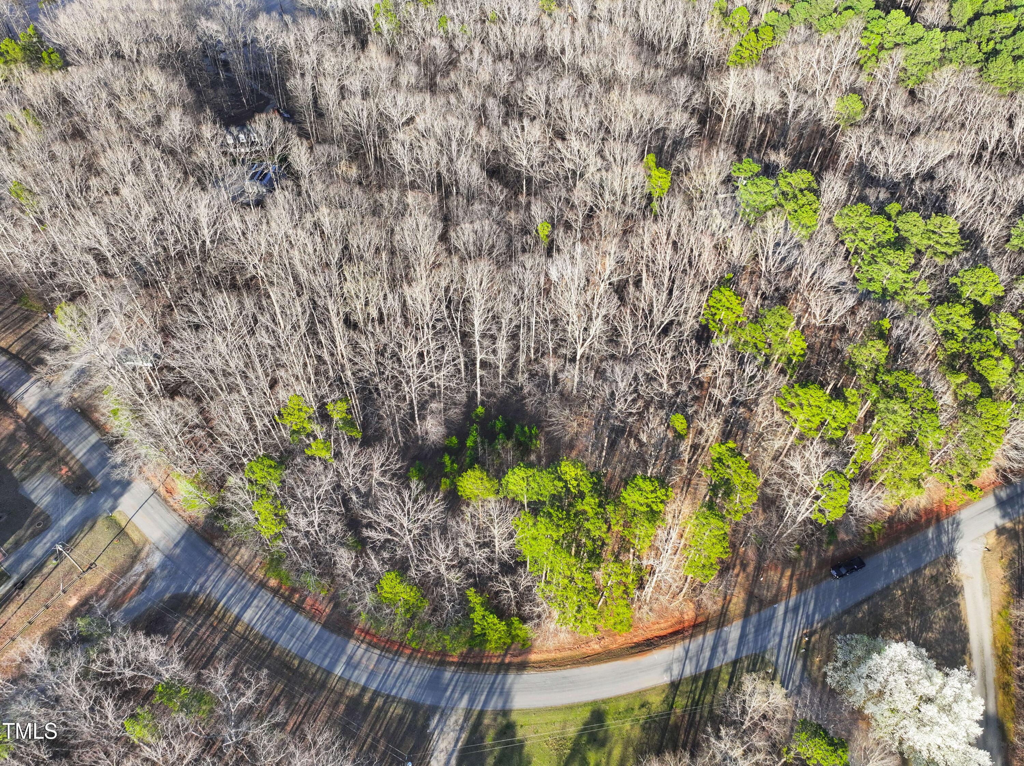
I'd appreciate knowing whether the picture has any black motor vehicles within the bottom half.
Yes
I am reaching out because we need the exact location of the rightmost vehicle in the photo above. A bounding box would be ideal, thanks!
[832,555,870,580]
